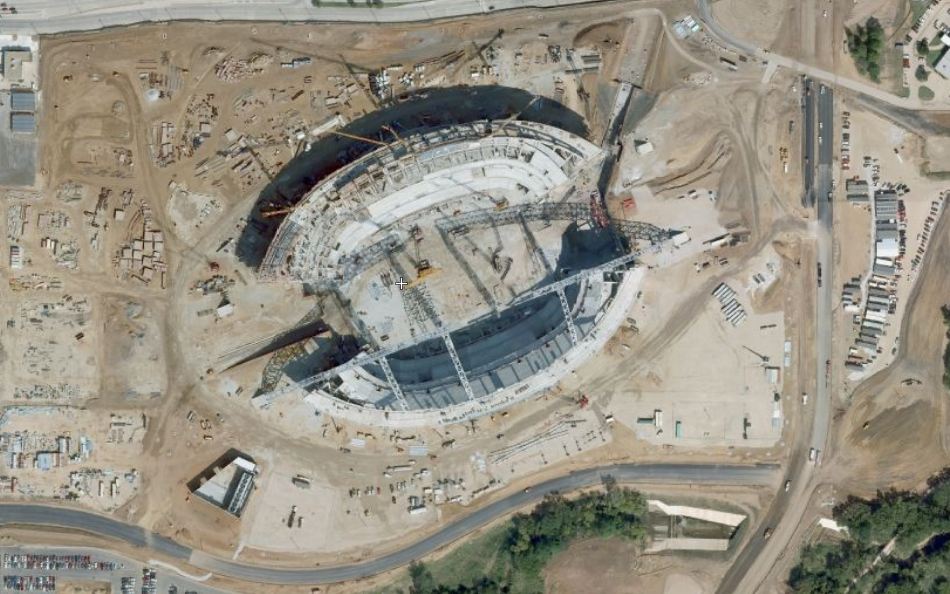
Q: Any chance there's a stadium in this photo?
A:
Yes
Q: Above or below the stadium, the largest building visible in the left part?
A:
below it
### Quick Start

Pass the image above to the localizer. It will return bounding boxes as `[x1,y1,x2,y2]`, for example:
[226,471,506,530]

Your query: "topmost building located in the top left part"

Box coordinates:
[5,51,31,82]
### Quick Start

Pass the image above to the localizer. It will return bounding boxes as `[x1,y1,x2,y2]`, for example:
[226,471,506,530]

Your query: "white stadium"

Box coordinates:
[214,82,680,427]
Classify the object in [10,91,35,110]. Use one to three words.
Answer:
shed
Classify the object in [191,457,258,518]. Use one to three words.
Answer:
building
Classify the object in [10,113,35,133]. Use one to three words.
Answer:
shed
